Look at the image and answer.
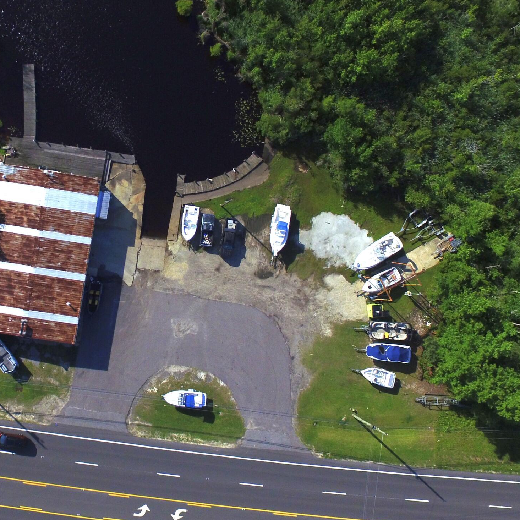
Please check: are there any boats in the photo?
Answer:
Yes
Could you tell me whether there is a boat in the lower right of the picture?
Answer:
Yes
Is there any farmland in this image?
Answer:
No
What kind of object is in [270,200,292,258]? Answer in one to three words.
boat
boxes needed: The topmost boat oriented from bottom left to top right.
[356,233,402,268]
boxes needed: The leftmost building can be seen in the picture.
[0,165,100,345]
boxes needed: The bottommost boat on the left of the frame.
[163,387,207,408]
